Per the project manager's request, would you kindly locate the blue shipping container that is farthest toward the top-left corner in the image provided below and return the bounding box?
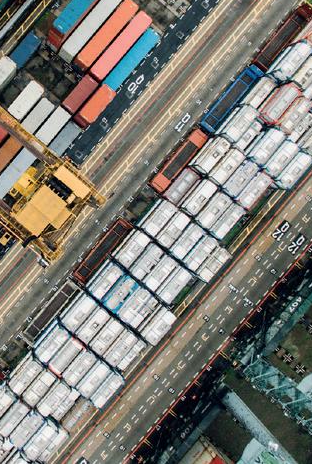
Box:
[7,26,44,70]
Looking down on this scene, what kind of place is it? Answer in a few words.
industrial area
